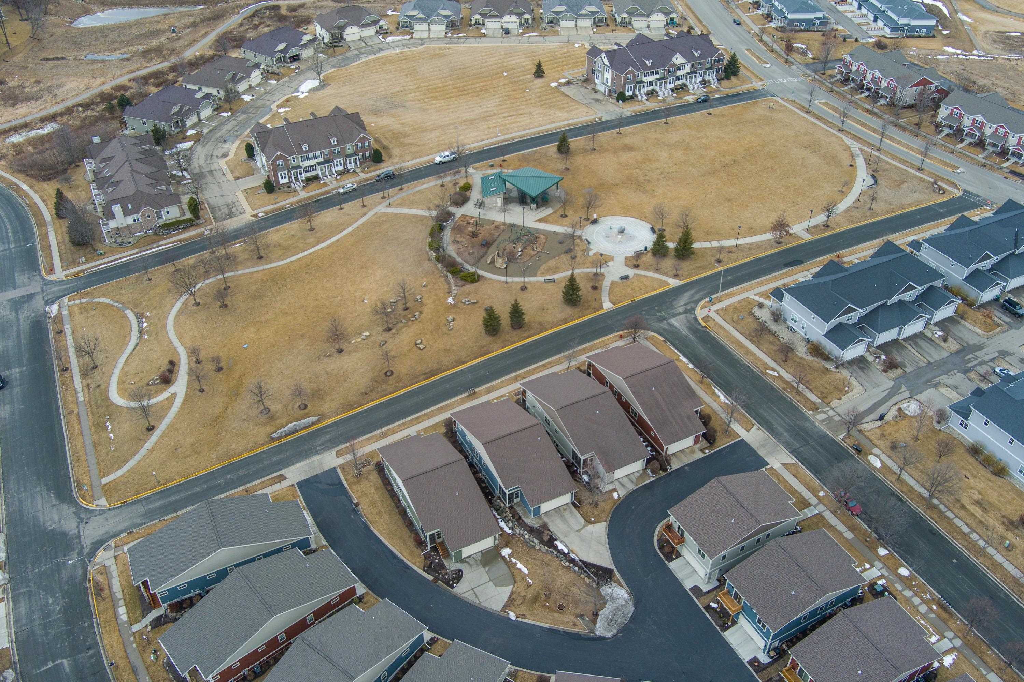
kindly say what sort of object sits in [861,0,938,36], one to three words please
house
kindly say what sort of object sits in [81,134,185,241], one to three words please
building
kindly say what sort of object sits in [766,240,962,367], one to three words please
house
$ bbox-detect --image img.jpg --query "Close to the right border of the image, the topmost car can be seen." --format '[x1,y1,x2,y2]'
[1004,295,1024,316]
